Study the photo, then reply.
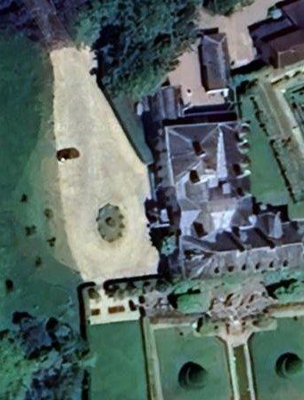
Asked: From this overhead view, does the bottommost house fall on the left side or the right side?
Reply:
right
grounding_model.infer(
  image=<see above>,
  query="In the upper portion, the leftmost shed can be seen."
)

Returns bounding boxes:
[145,86,192,122]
